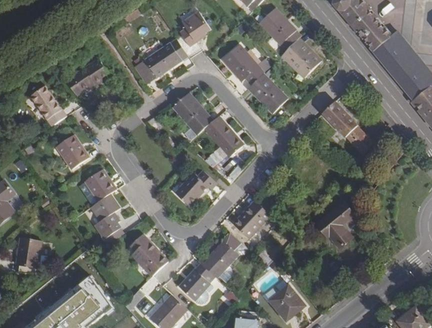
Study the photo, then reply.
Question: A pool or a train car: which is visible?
pool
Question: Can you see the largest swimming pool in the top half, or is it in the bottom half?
bottom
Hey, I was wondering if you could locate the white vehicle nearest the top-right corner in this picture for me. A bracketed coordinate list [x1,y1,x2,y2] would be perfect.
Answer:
[379,2,394,16]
